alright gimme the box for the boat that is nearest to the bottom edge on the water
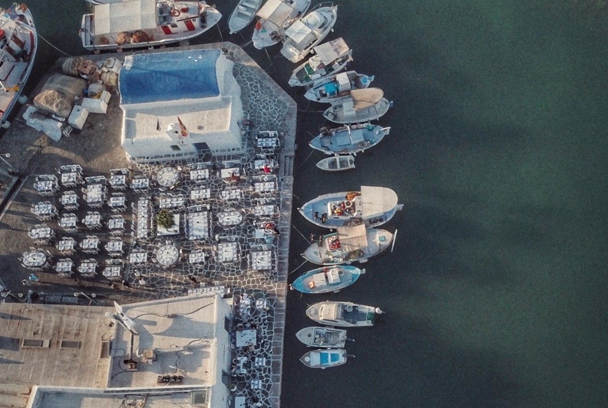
[299,349,350,368]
